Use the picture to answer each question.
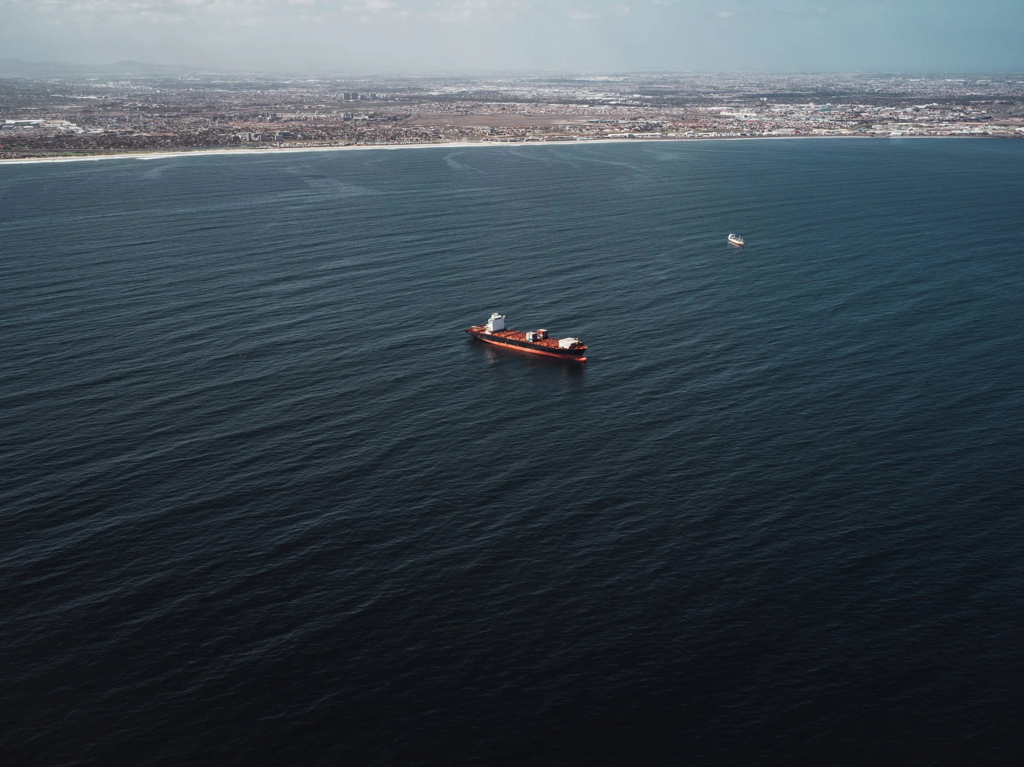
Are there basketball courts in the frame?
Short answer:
No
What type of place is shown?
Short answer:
port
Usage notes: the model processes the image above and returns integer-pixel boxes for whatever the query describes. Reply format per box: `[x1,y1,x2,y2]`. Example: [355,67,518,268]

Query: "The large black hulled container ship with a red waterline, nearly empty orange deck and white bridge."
[464,310,589,362]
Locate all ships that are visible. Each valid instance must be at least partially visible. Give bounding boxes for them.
[464,310,589,362]
[728,234,745,246]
